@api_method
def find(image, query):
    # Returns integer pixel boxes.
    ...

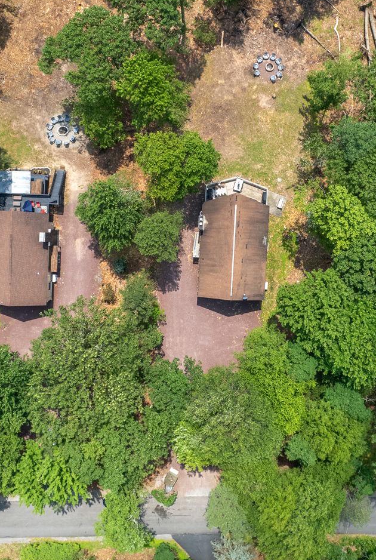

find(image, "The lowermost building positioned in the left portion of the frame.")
[0,211,62,307]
